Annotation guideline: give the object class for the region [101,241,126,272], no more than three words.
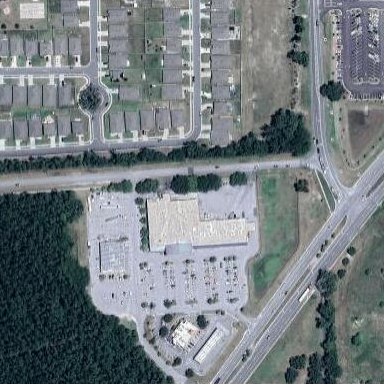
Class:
building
